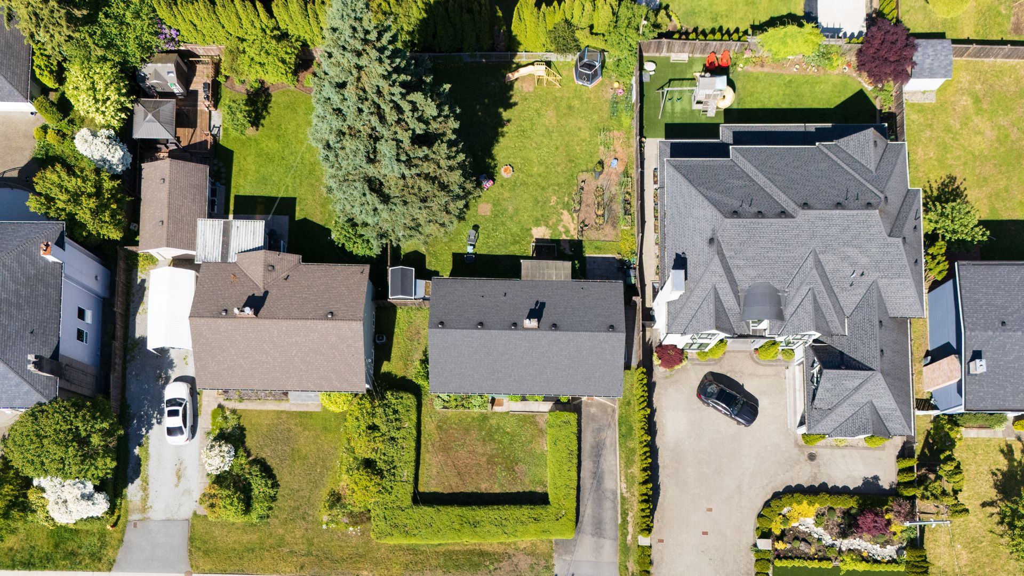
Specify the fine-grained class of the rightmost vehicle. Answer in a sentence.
I'd identify the rightmost vehicle as a car.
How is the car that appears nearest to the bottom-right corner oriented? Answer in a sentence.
The car that appears nearest to the bottom-right corner has been laid out at an angle relative to the frame.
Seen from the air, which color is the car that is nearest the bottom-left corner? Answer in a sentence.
From above, the car that is nearest the bottom-left corner appears white.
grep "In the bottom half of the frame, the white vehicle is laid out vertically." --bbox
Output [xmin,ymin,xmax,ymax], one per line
[162,384,193,447]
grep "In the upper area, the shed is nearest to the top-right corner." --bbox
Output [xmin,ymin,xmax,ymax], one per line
[906,39,954,91]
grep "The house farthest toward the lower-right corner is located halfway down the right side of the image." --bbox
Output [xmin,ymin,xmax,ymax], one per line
[923,260,1024,414]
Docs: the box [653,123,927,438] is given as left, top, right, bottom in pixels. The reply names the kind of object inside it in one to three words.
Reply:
house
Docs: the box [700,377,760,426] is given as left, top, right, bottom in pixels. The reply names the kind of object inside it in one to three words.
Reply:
car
